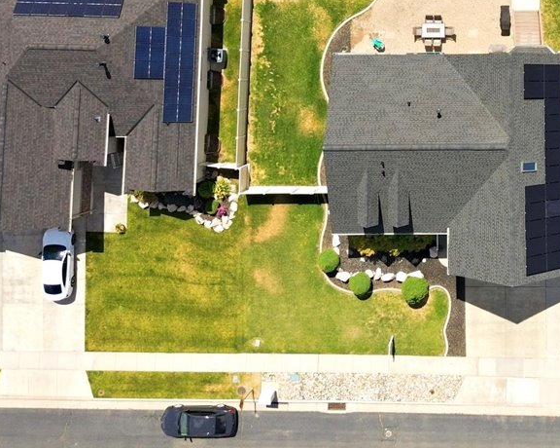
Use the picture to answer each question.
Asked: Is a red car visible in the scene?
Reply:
No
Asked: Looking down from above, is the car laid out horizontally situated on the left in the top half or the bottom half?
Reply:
bottom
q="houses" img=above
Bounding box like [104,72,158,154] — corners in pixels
[0,0,216,231]
[323,43,560,287]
